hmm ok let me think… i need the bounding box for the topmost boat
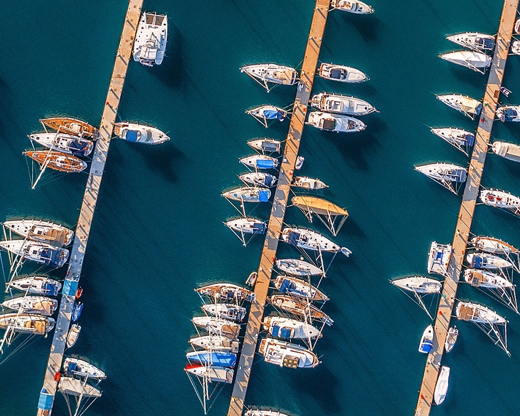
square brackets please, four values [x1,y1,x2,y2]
[331,0,380,17]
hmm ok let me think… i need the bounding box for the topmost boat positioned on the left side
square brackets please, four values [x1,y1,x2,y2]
[133,12,171,64]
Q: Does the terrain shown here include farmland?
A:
No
